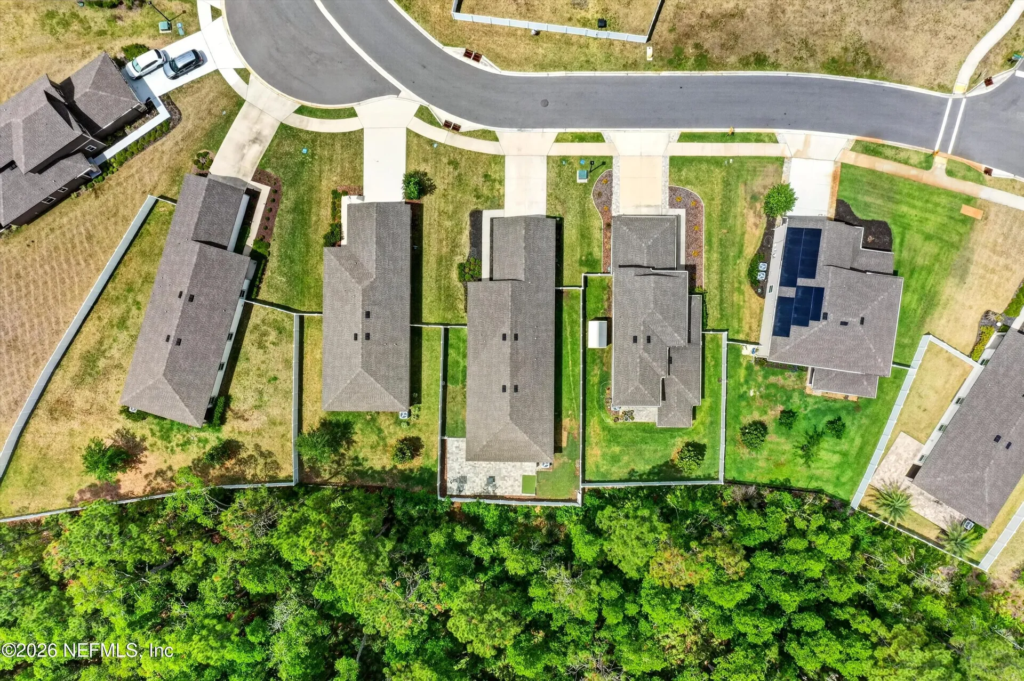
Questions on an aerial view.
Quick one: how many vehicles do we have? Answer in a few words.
2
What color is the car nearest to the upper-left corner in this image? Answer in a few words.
white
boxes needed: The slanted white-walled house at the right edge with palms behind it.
[903,326,1024,529]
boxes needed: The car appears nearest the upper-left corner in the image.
[126,47,169,81]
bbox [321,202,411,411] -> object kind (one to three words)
house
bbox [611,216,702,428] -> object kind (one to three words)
house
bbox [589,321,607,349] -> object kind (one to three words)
shed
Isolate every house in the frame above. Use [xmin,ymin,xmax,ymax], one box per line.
[466,216,555,463]
[321,202,411,411]
[0,51,147,231]
[903,326,1024,529]
[757,218,904,399]
[120,173,257,428]
[611,216,702,428]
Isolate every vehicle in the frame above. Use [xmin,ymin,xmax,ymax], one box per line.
[164,48,205,81]
[126,47,169,81]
